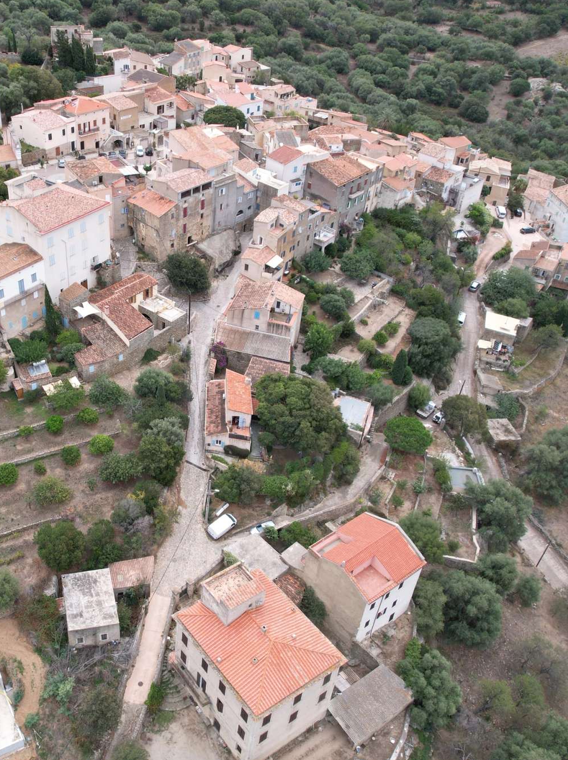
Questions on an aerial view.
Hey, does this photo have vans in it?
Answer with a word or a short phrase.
Yes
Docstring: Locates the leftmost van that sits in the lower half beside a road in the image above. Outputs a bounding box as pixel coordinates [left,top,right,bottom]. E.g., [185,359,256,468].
[211,513,239,543]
